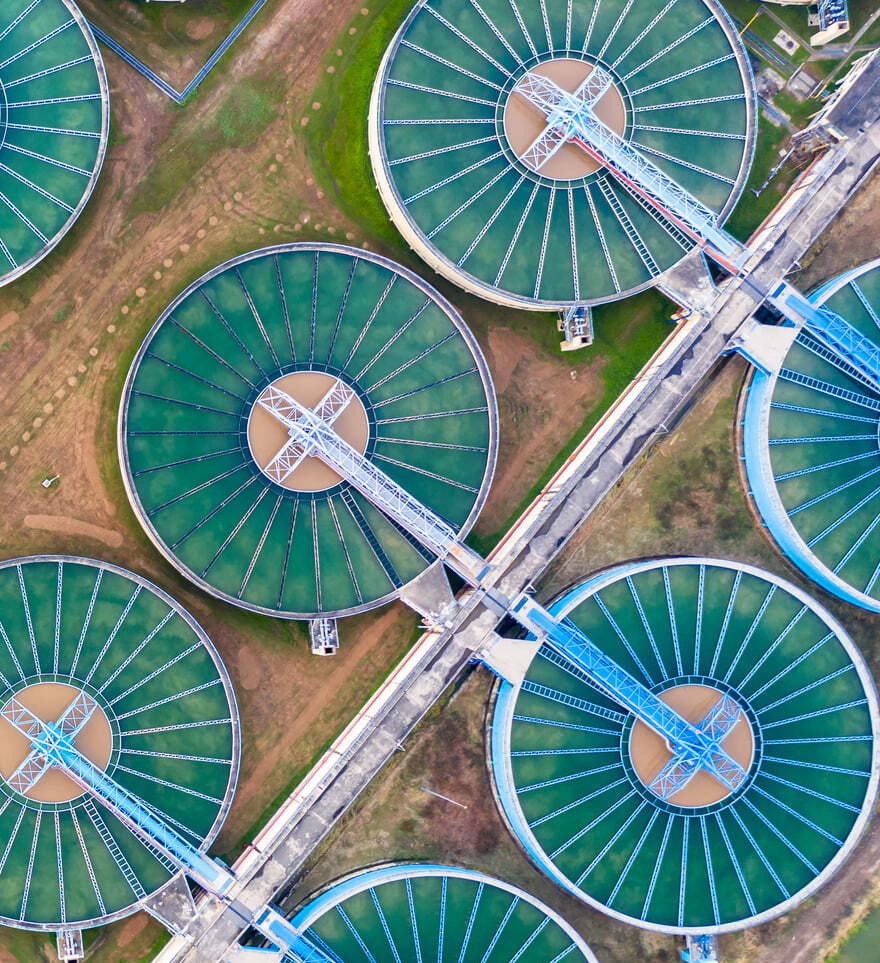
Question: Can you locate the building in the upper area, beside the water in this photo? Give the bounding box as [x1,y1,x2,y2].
[807,37,880,153]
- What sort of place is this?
industrial area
